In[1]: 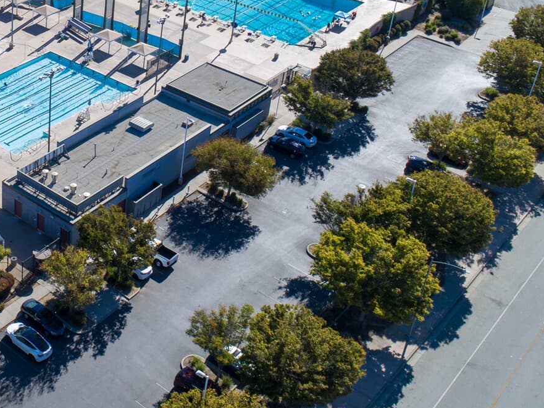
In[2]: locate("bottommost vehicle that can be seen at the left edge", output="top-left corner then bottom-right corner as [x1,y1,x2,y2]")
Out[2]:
[5,318,56,357]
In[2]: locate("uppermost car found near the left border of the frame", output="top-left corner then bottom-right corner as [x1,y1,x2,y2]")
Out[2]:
[22,296,71,333]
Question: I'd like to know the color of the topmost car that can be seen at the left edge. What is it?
black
